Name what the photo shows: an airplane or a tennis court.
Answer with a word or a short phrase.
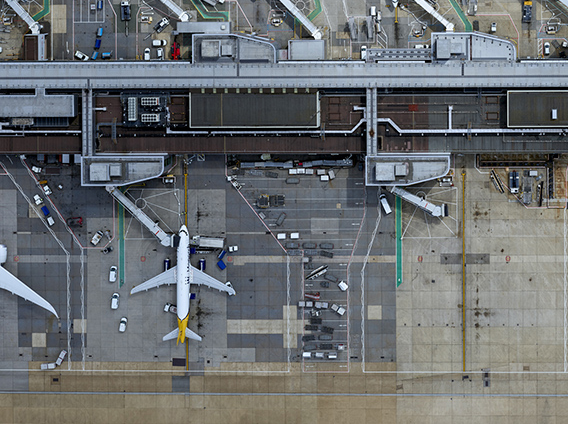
airplane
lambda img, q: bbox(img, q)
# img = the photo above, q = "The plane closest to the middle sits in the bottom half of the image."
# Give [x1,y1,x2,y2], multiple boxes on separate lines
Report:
[129,224,236,342]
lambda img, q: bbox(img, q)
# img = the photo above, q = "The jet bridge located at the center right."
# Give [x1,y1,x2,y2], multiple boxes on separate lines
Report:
[389,185,449,218]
